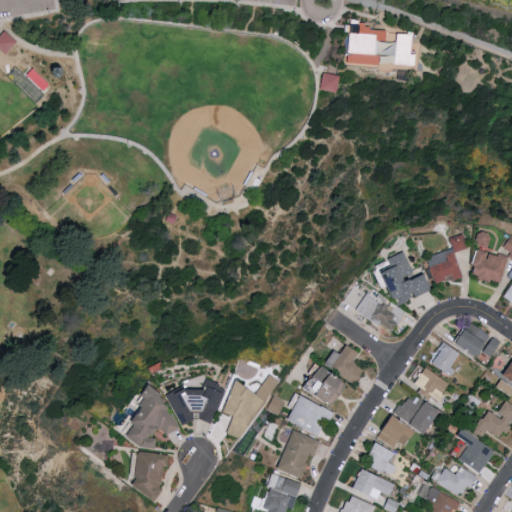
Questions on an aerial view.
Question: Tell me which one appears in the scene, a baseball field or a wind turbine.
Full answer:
Looking from above, you can make out a baseball field.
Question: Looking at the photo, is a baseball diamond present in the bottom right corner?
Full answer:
No, I see no baseball diamond in the bottom right corner.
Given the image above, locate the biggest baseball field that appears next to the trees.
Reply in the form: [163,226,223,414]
[69,20,315,204]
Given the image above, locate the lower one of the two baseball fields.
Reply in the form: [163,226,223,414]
[52,171,130,238]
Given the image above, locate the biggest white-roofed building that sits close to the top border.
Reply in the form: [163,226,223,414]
[345,18,386,64]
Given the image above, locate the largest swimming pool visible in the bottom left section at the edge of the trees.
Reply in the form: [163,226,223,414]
[112,411,127,426]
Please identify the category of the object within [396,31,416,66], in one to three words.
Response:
building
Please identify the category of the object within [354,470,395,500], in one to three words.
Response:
house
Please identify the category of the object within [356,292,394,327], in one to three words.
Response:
house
